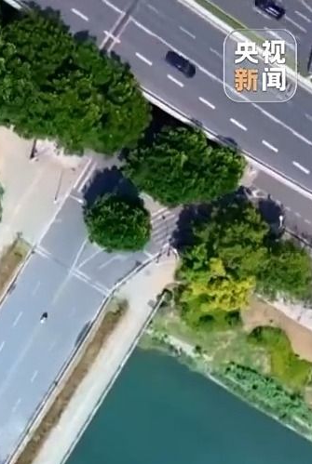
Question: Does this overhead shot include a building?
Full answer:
No, this view has no building in it.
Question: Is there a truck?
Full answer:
No, this view has no truck in it.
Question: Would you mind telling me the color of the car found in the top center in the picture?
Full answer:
From above, the car found in the top center appears black.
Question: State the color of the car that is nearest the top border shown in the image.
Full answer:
In this view, the car that is nearest the top border is black.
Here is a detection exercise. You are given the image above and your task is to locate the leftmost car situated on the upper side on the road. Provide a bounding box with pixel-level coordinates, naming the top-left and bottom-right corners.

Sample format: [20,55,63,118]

[162,50,197,79]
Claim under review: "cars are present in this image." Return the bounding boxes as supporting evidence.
[250,0,286,23]
[162,50,197,79]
